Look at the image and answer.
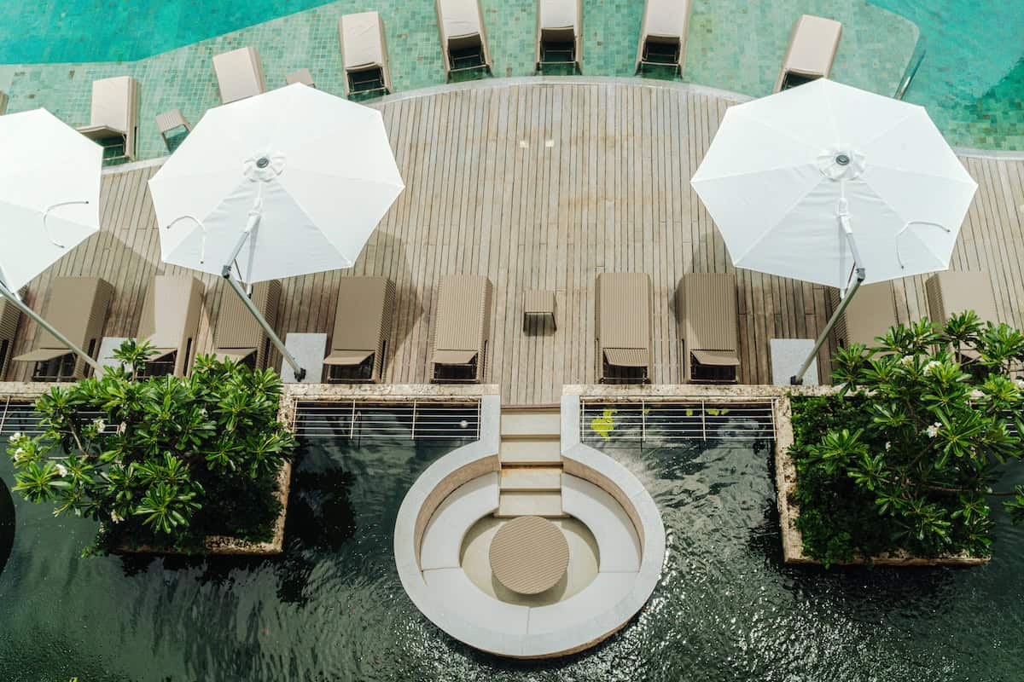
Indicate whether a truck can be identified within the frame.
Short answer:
No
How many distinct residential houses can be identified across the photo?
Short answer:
zero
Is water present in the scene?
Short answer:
Yes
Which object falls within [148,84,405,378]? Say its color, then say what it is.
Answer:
white umbrella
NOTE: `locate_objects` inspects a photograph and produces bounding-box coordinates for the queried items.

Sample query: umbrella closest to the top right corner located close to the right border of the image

[693,76,975,384]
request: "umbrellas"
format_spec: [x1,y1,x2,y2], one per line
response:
[693,76,975,384]
[0,103,109,375]
[148,84,405,378]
